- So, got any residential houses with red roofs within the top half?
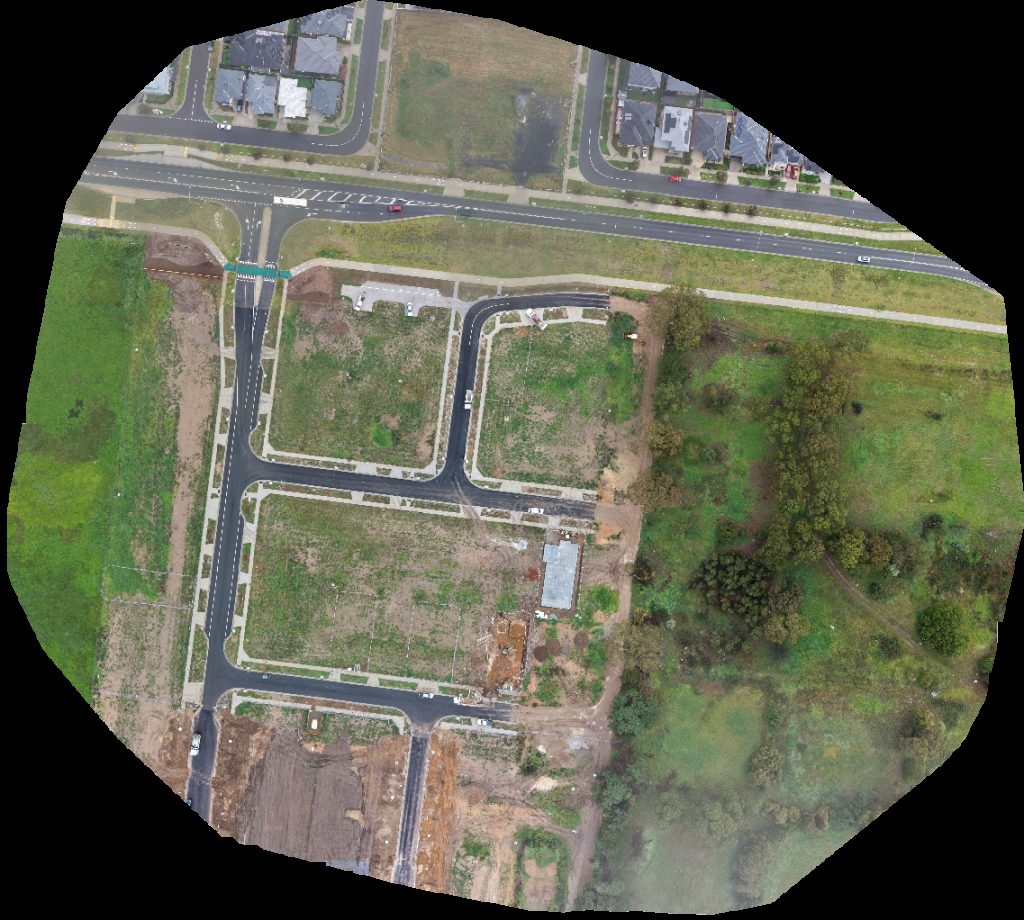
No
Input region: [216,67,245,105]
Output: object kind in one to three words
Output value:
house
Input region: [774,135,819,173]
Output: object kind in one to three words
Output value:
house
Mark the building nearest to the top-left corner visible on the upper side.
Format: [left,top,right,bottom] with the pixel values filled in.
[139,65,169,96]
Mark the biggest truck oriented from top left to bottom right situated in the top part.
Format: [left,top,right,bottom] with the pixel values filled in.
[526,307,547,331]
